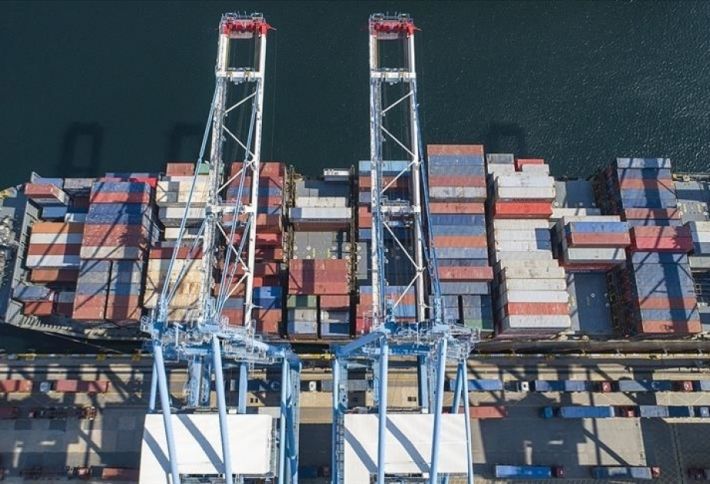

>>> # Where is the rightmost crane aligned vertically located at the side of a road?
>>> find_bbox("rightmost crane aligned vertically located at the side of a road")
[324,8,478,484]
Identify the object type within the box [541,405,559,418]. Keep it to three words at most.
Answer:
vehicle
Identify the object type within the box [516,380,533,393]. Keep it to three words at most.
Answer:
vehicle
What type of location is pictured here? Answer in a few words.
port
